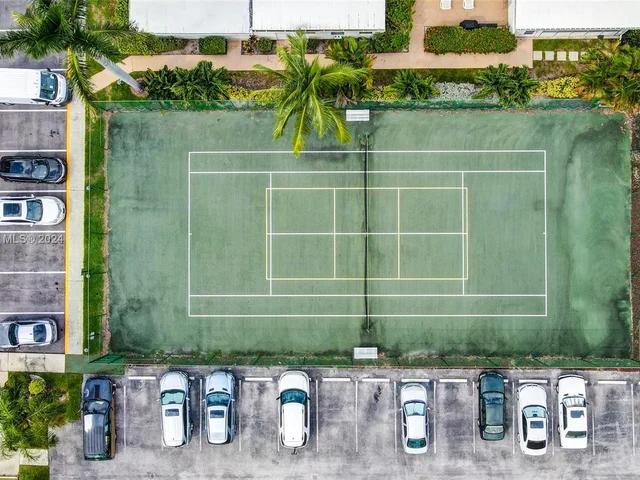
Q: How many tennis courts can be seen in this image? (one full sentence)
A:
I count just 1 tennis court.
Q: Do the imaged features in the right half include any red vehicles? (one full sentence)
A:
No, looking in the right half, there is no red vehicle.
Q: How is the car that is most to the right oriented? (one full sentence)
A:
The car that is most to the right is laid out vertically.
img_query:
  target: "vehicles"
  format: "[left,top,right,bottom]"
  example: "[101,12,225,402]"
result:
[157,371,193,445]
[79,376,118,459]
[200,371,238,444]
[0,64,71,106]
[2,152,68,187]
[0,318,58,352]
[553,374,590,448]
[276,371,314,449]
[399,382,432,453]
[478,371,509,440]
[515,383,551,455]
[0,192,67,229]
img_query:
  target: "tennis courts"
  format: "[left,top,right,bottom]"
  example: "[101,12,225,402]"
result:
[106,110,632,357]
